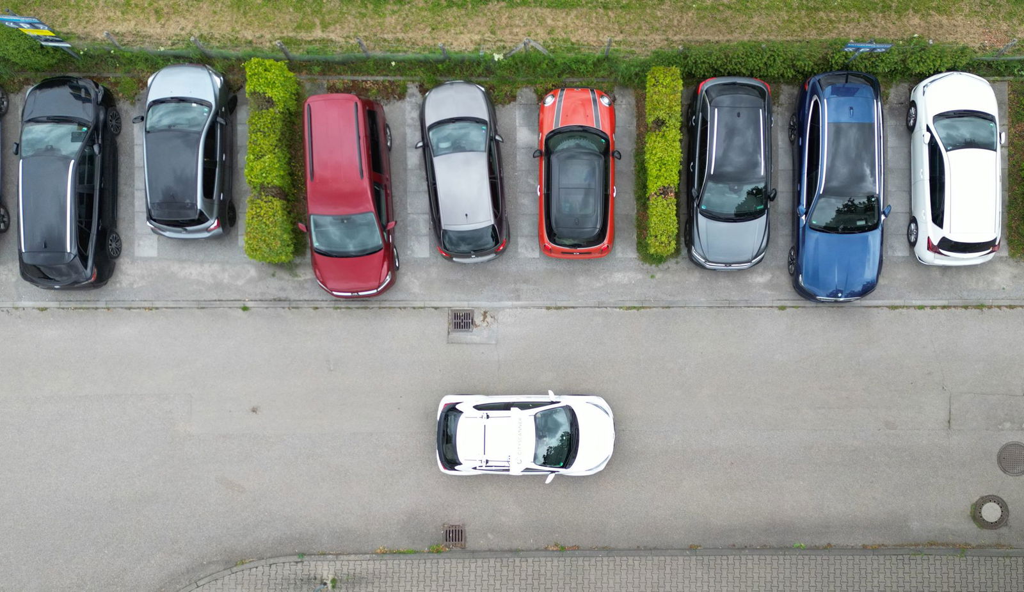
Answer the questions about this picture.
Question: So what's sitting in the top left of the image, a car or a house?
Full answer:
You can see a car in the top left of the image.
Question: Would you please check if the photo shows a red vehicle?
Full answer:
Yes, there is a red vehicle in the image.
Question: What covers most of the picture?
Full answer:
Most of the picture is covered by paved ground.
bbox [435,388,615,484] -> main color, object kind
white car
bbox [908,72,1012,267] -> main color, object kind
white car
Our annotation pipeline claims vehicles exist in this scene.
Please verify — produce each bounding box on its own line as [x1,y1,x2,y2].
[435,388,615,484]
[7,77,123,290]
[685,79,783,272]
[530,88,624,261]
[131,65,235,239]
[413,81,512,264]
[908,72,1012,267]
[790,75,896,302]
[293,95,398,301]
